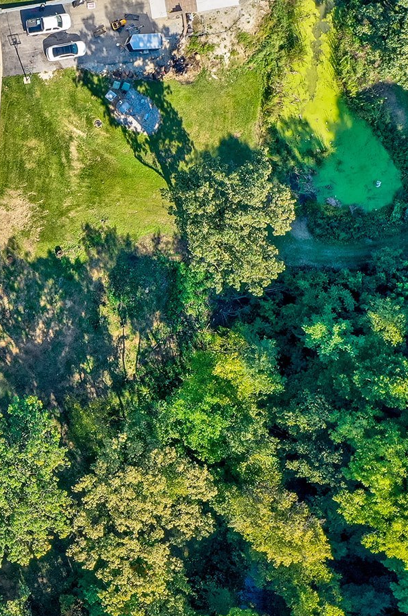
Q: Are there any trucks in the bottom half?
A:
No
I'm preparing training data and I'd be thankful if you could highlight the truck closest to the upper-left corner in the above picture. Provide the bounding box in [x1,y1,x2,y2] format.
[20,12,72,37]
